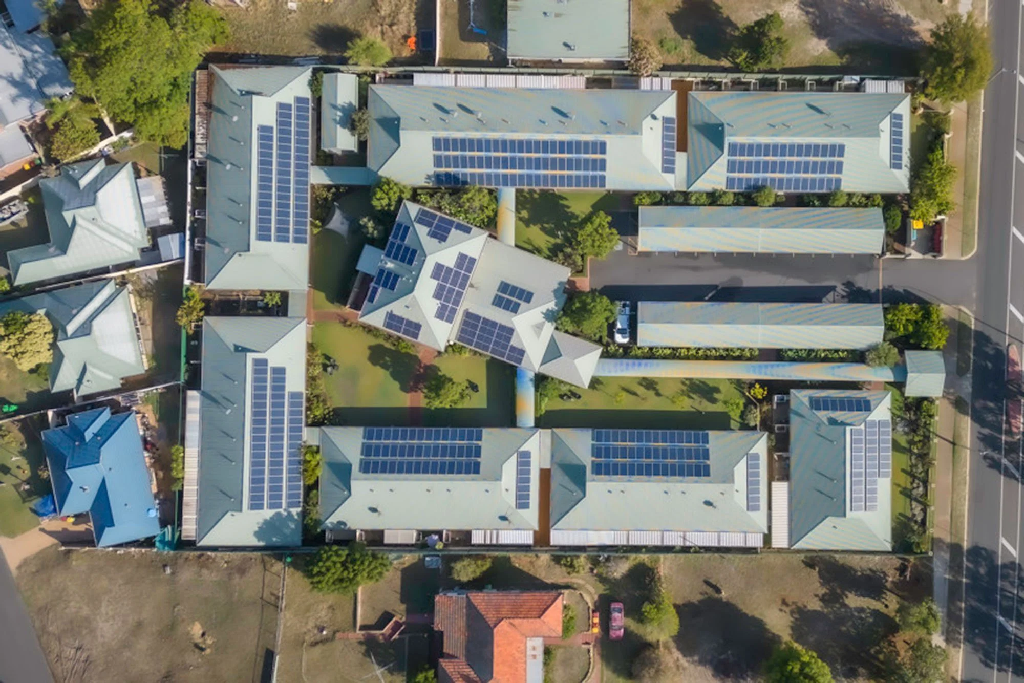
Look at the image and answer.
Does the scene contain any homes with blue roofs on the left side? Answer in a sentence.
Yes, looking on the left side, one can make out a home with a blue roof.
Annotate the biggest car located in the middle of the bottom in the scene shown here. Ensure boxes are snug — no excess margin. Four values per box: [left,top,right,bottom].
[609,602,626,640]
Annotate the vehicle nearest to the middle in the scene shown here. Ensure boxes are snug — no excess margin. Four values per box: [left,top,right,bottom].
[614,301,632,343]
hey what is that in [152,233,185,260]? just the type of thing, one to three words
shed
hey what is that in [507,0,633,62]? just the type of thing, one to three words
house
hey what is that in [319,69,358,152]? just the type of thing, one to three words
shed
